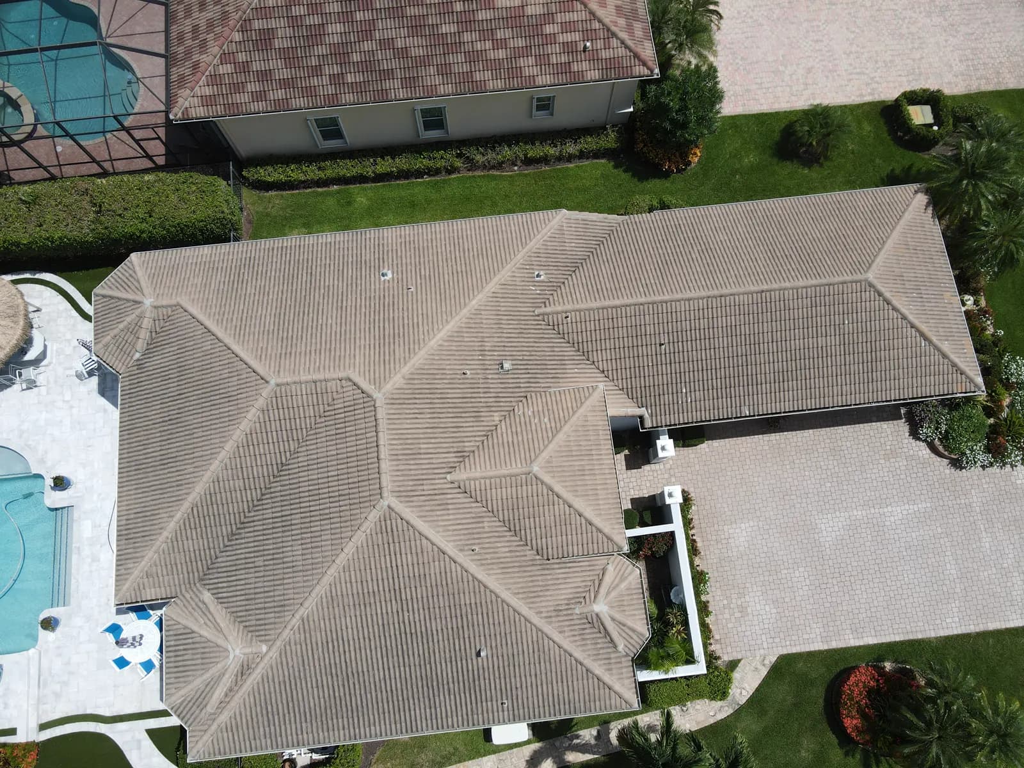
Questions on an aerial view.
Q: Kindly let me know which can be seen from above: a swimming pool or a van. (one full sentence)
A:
There is a swimming pool in the scene.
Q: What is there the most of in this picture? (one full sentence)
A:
What you mostly see from above here is buildings.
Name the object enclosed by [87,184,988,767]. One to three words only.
house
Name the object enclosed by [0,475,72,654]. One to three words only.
swimming pool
